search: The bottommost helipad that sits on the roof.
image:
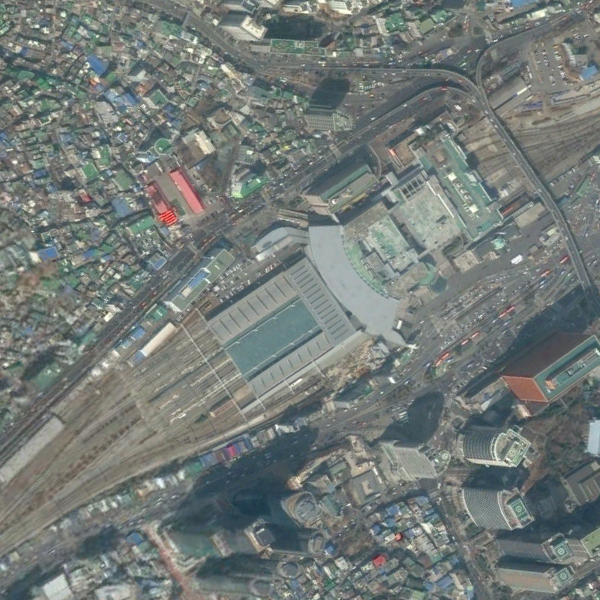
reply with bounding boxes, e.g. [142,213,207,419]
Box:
[555,568,571,585]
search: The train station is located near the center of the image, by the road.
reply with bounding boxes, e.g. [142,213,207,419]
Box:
[202,225,405,405]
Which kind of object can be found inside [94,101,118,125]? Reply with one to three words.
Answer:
building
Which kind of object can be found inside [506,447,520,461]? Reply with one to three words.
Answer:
helipad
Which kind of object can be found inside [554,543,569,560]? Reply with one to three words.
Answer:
helipad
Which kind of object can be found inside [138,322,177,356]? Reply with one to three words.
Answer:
shed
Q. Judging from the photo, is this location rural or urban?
urban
